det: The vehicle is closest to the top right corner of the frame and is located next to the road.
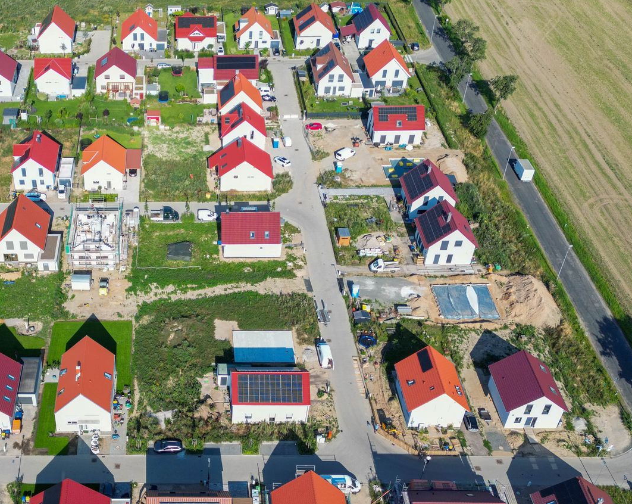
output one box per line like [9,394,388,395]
[517,157,536,179]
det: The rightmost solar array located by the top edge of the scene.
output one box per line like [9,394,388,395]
[355,7,374,31]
